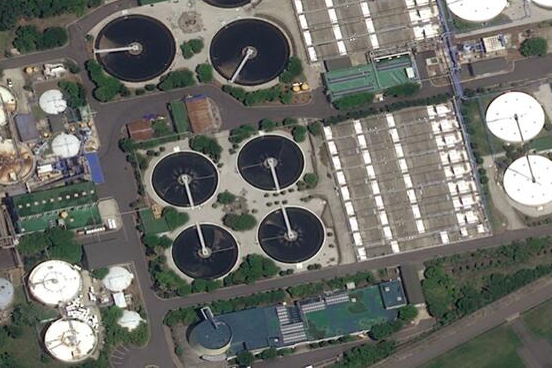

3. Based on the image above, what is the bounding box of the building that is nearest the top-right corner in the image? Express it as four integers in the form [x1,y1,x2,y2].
[484,34,505,57]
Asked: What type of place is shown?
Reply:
industrial area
